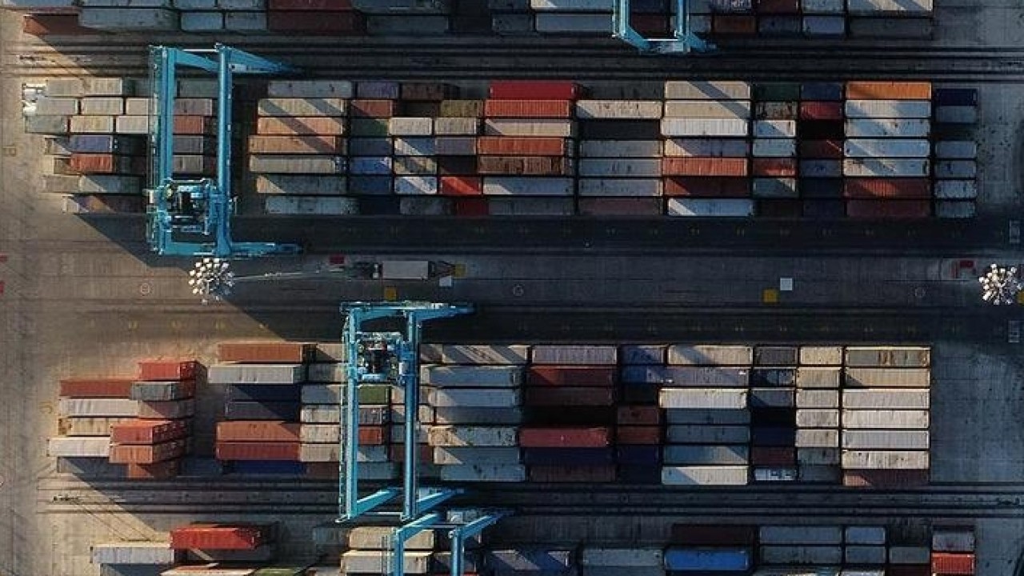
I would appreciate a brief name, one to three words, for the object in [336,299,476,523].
container crane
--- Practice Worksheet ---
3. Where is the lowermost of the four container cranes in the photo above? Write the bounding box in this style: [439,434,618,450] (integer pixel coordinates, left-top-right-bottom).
[383,507,516,576]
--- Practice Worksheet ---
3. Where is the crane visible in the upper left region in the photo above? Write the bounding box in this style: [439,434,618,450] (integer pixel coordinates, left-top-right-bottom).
[146,42,304,259]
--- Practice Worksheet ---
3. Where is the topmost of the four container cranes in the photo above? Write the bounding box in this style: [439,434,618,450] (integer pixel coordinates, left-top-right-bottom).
[610,0,722,55]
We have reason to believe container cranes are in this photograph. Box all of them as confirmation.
[610,0,722,55]
[146,42,304,259]
[383,507,516,576]
[336,299,476,523]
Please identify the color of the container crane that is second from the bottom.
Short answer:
blue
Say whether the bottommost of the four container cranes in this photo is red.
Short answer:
No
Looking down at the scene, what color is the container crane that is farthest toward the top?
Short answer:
blue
